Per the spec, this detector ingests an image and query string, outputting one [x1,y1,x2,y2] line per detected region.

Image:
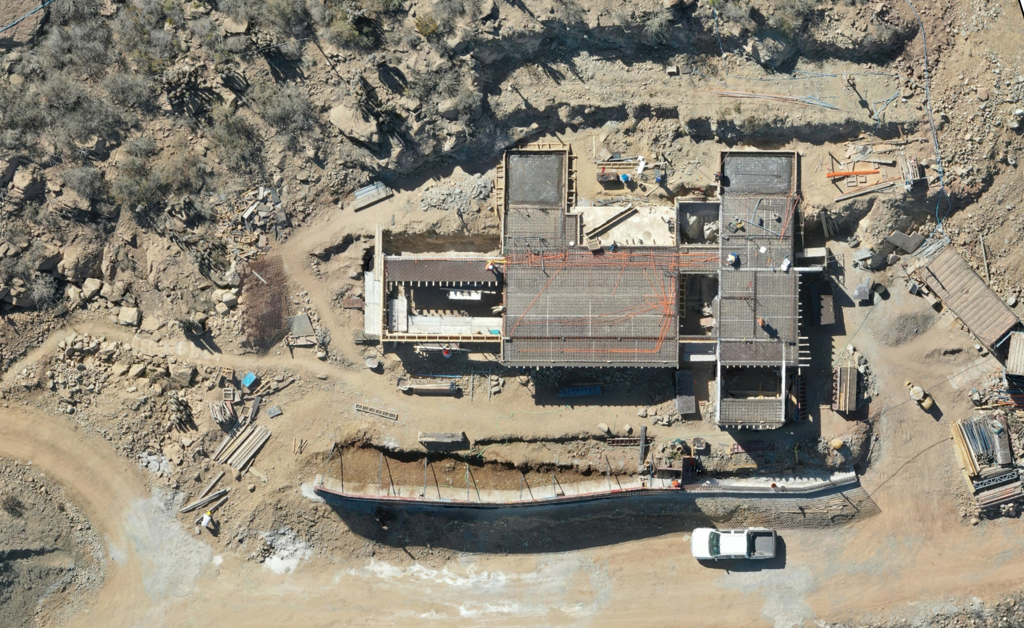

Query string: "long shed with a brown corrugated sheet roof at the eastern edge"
[915,246,1018,348]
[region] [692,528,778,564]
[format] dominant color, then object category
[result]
white truck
